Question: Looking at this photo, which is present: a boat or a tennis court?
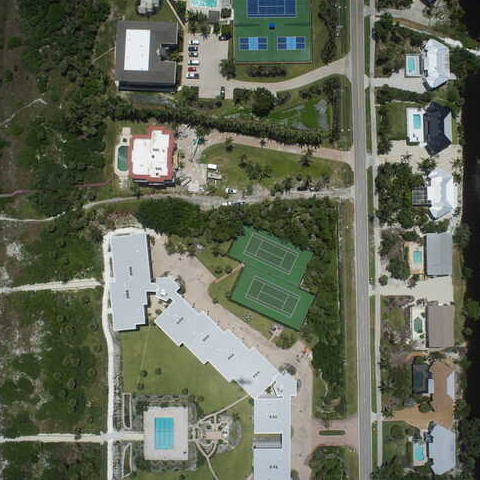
tennis court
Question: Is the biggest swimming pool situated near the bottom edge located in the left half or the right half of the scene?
left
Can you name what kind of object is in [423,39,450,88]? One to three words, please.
house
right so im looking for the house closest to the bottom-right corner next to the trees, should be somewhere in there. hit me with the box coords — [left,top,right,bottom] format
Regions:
[429,423,456,474]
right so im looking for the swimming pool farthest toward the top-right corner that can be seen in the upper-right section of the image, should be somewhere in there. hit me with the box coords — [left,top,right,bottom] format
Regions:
[405,54,420,76]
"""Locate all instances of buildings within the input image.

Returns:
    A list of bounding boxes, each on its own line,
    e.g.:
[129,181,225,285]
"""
[111,234,297,480]
[426,306,454,348]
[426,169,457,219]
[429,423,456,474]
[426,358,454,411]
[423,102,452,156]
[426,233,452,276]
[423,39,450,88]
[137,0,158,13]
[129,127,177,182]
[115,21,178,88]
